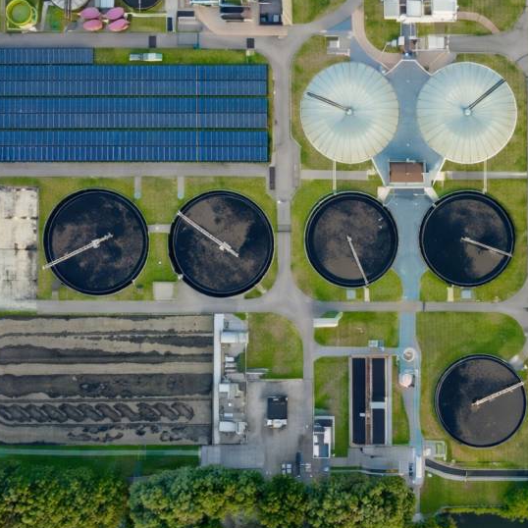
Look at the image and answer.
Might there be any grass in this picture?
Yes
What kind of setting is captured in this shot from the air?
industrial area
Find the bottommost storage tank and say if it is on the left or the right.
right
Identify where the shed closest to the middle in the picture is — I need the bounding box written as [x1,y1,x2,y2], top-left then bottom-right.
[221,329,250,343]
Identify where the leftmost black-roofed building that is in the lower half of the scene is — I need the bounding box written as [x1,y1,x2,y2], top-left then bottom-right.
[268,395,289,419]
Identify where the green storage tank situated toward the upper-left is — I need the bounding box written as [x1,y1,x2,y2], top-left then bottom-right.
[7,0,41,31]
